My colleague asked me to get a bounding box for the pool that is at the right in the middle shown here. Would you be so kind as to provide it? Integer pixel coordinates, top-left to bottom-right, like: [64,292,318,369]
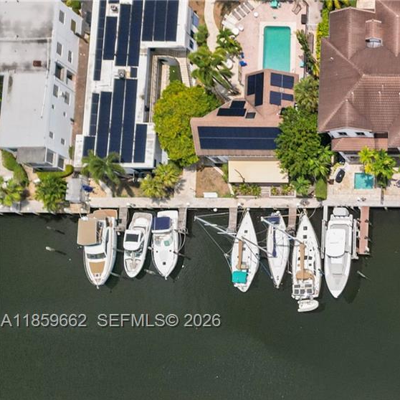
[352,170,375,190]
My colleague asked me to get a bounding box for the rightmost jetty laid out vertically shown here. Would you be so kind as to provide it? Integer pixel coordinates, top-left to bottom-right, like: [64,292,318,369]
[357,207,372,255]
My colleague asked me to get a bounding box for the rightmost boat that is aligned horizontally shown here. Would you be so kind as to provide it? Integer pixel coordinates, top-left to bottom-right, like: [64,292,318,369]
[297,299,319,311]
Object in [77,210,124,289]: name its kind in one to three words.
boat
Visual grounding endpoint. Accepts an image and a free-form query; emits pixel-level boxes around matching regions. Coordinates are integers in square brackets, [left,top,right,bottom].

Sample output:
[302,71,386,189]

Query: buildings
[72,0,202,177]
[0,0,86,176]
[192,68,303,188]
[317,0,400,165]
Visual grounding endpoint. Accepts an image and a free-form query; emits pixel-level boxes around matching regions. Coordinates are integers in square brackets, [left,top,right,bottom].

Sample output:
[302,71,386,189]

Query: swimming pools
[259,21,295,73]
[352,170,375,190]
